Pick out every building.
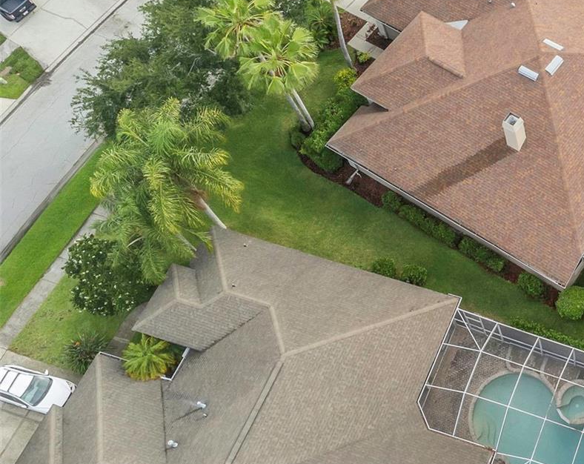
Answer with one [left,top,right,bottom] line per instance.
[326,0,584,293]
[15,225,494,464]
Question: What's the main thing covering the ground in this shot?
buildings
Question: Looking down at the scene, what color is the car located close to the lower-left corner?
white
